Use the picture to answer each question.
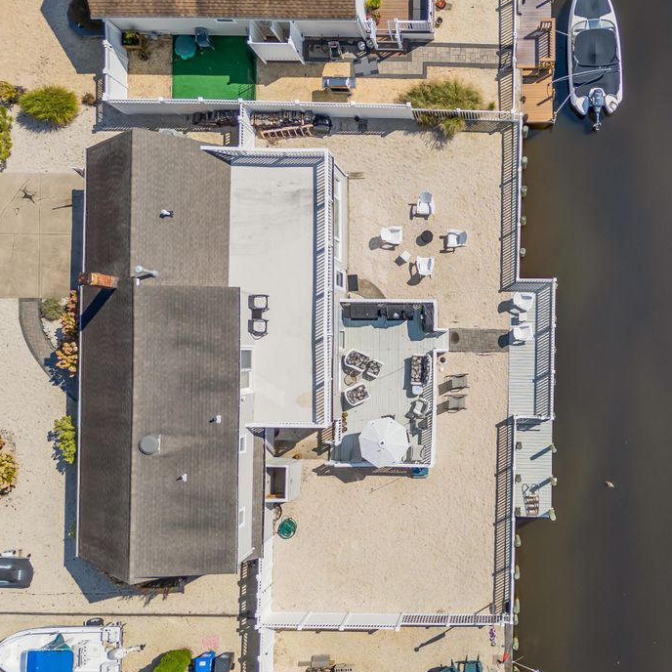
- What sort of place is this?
residential area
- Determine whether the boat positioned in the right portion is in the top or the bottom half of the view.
top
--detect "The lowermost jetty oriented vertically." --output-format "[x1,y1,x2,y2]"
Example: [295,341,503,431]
[516,419,552,518]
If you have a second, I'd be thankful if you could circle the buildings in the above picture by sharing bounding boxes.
[85,0,362,35]
[76,130,349,583]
